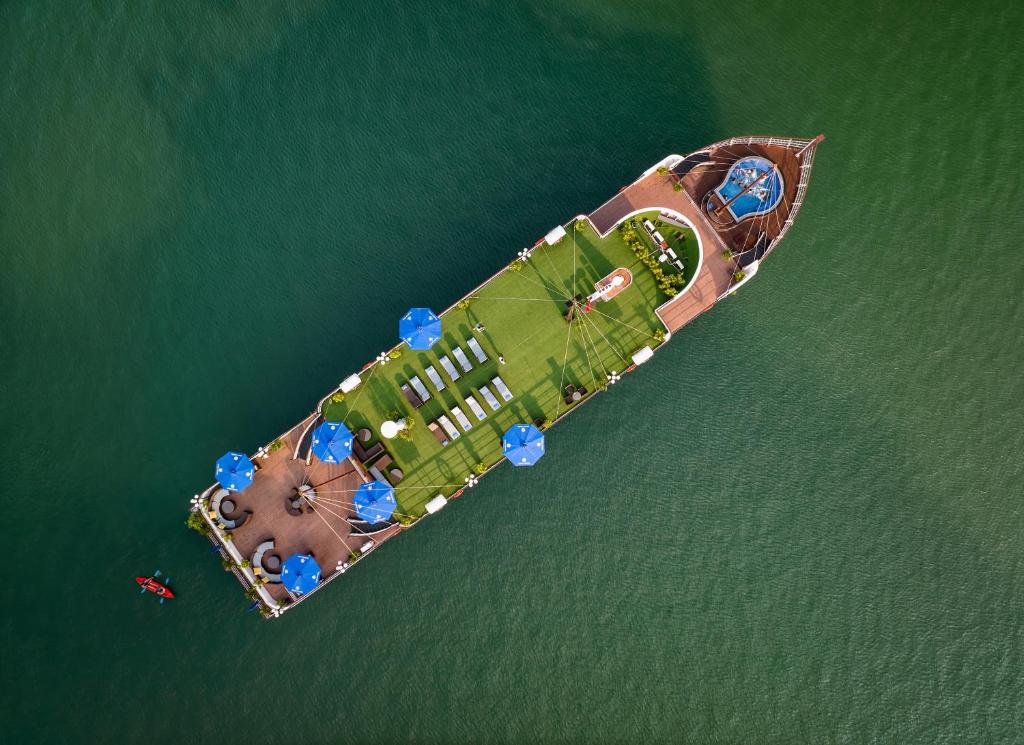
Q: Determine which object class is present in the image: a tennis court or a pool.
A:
pool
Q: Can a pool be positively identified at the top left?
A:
No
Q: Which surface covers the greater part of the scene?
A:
water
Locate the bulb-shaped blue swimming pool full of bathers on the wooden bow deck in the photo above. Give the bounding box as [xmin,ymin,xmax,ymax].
[711,157,783,224]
